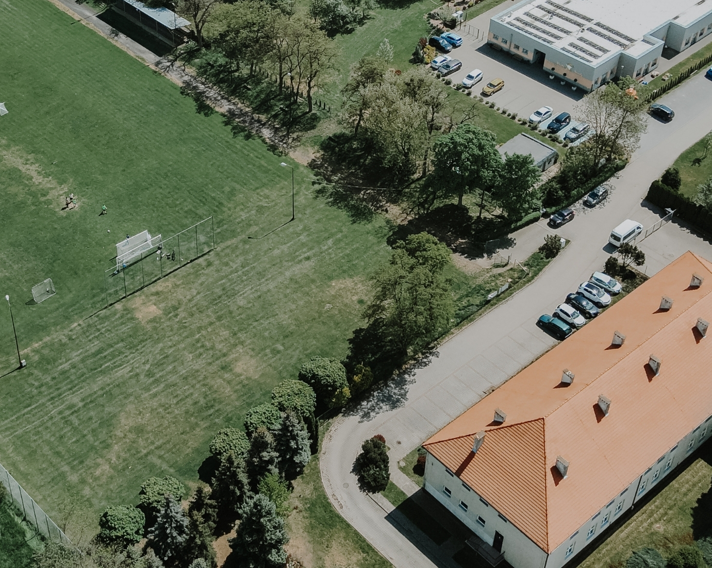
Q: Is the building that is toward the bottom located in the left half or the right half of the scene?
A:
right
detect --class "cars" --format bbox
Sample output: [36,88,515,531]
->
[581,183,612,206]
[441,31,466,48]
[564,293,601,318]
[480,76,507,97]
[646,103,679,122]
[527,106,556,125]
[427,33,455,52]
[546,204,580,227]
[546,110,573,132]
[577,279,613,307]
[563,122,590,142]
[427,54,455,69]
[551,302,587,327]
[587,270,625,295]
[536,315,574,338]
[436,57,464,77]
[460,68,485,87]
